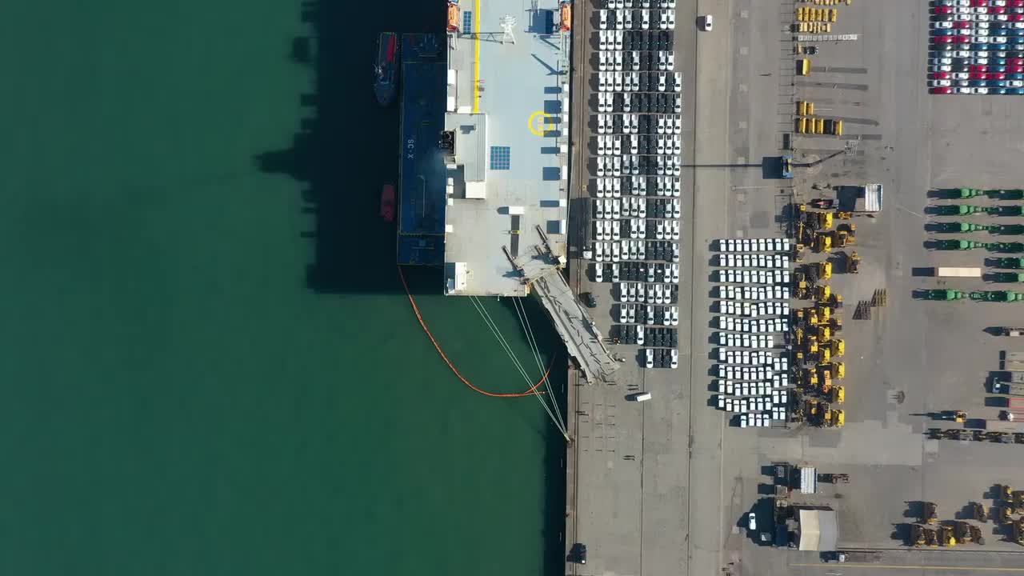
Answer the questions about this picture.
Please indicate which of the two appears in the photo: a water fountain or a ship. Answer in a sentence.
Visible in the photo is a ship.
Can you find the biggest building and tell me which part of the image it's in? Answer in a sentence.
The biggest building sits in the bottom right section of the image.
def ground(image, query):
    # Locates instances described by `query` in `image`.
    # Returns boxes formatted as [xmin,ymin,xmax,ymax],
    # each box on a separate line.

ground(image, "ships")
[398,33,447,265]
[439,0,620,384]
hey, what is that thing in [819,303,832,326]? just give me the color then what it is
yellow vehicle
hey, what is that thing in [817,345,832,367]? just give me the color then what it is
yellow work vehicle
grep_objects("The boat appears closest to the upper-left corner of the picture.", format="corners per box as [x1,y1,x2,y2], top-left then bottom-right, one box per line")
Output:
[375,33,399,107]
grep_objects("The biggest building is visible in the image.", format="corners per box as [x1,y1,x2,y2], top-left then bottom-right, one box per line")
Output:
[796,507,838,551]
